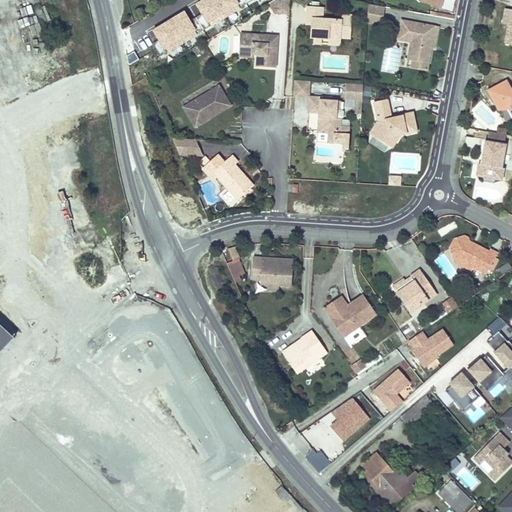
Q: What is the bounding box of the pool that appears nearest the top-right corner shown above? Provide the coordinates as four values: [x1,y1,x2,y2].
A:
[472,100,504,130]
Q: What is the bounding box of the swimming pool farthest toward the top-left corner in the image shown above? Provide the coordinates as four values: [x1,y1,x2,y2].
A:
[208,28,240,61]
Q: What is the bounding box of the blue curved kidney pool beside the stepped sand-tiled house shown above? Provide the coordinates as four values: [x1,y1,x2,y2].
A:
[199,176,224,207]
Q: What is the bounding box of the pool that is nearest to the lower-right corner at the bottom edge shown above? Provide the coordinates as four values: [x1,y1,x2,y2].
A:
[456,467,481,490]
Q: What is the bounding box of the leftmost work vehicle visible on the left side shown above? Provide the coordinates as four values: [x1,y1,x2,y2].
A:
[59,192,72,220]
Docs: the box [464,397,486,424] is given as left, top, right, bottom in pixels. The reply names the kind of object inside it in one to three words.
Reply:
swimming pool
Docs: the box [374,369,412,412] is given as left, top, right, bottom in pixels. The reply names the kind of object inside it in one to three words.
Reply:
house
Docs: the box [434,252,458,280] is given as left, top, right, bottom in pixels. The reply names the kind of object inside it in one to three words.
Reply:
swimming pool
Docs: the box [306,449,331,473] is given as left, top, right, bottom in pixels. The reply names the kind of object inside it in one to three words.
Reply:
building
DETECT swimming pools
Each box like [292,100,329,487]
[313,144,344,164]
[472,100,504,130]
[464,397,486,424]
[456,467,481,490]
[489,382,507,398]
[199,176,224,207]
[434,252,458,280]
[320,52,350,73]
[389,152,421,174]
[208,28,240,61]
